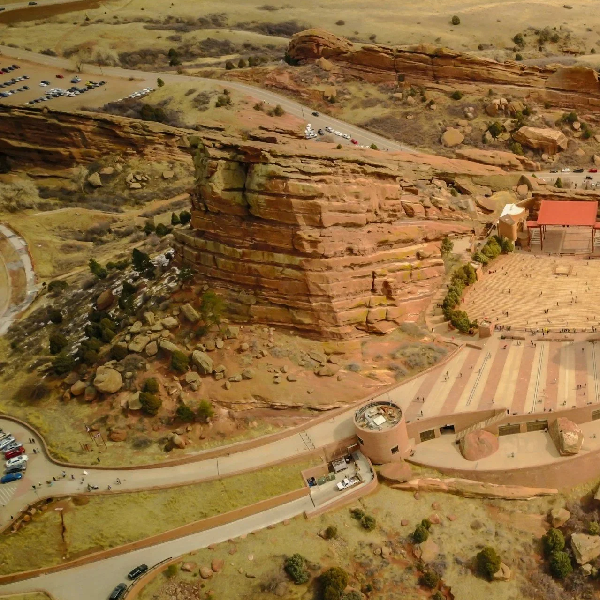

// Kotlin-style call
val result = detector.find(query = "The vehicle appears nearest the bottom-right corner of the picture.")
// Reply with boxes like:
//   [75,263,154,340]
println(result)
[335,474,360,489]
